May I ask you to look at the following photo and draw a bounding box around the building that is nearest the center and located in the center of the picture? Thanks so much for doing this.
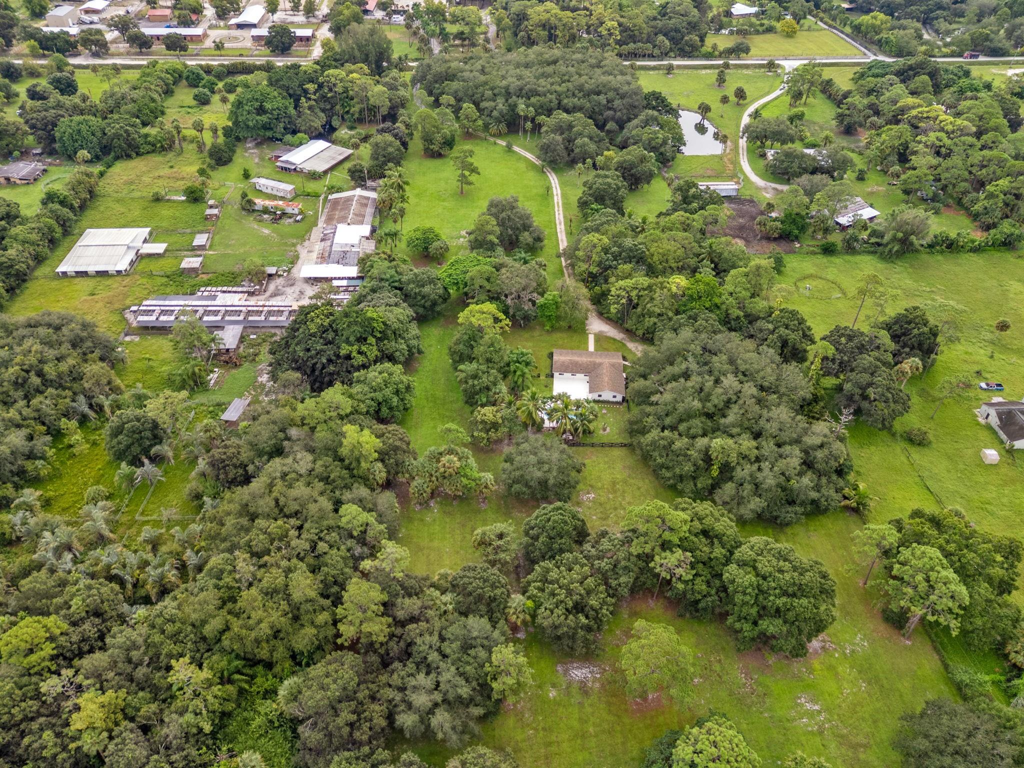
[554,349,626,402]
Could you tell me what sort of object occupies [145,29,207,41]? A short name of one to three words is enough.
building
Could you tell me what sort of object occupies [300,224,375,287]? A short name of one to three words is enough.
barn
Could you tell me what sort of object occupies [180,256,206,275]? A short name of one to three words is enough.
shed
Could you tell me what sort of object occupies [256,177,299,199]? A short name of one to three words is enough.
house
